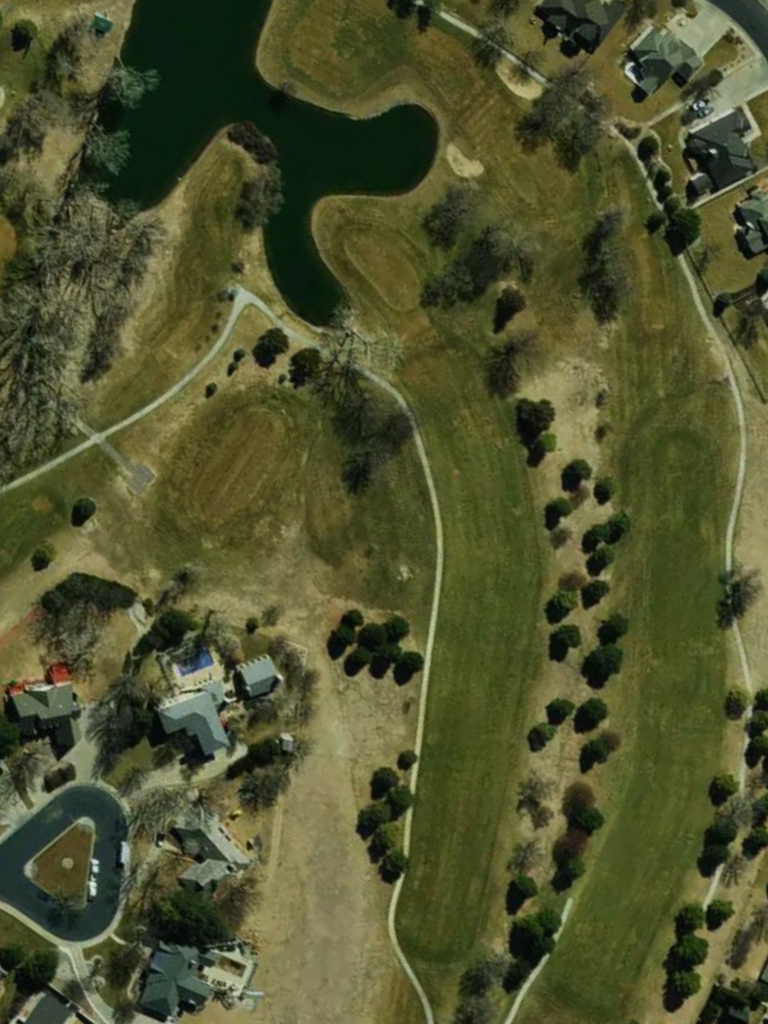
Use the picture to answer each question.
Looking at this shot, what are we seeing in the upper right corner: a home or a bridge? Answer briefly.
home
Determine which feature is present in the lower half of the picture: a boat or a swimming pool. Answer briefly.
swimming pool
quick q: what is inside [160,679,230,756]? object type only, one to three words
house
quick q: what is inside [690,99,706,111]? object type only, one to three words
vehicle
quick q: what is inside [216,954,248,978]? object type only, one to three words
swimming pool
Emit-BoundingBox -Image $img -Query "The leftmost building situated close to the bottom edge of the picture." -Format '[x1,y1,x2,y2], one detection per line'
[23,987,74,1024]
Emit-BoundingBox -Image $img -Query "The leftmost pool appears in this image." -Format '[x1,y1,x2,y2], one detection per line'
[176,646,215,678]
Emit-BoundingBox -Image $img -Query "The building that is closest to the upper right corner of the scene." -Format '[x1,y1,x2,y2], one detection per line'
[632,28,702,94]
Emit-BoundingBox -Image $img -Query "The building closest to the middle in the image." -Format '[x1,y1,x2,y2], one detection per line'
[239,654,279,697]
